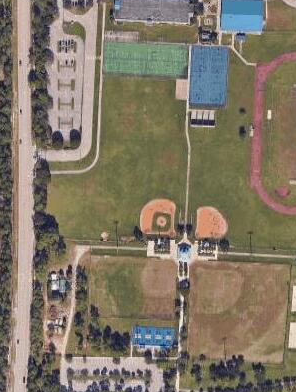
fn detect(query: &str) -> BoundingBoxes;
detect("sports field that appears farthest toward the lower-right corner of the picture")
[187,262,290,363]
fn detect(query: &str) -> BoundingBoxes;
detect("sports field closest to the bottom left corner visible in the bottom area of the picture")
[90,256,180,321]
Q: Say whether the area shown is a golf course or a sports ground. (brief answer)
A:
sports ground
